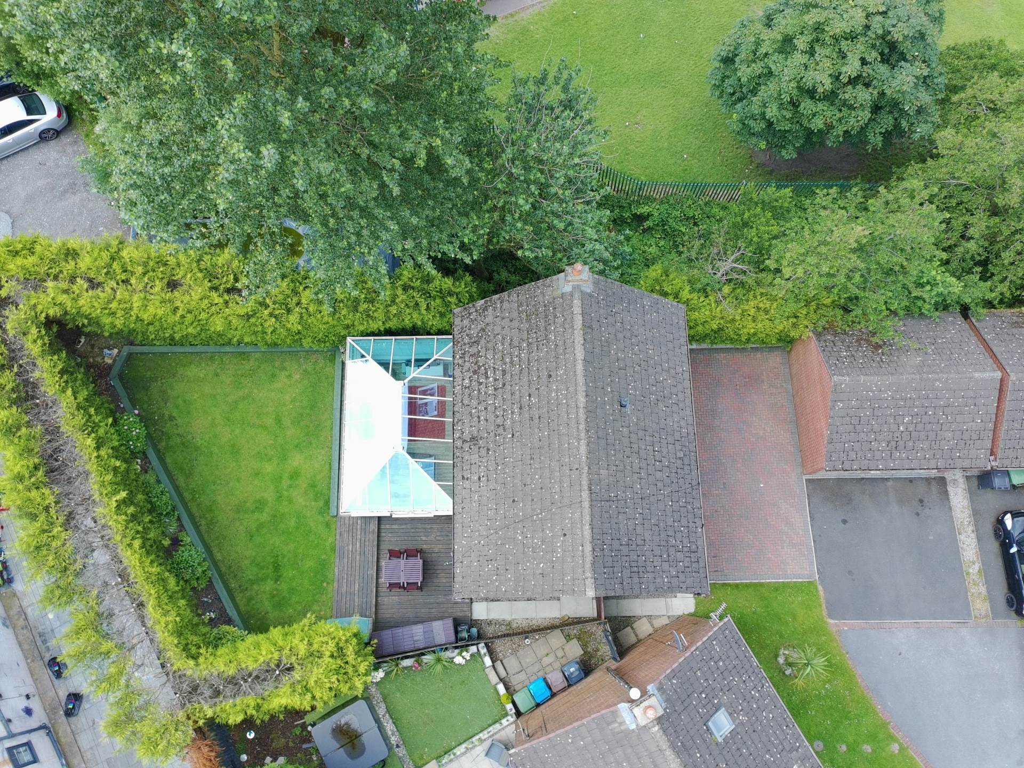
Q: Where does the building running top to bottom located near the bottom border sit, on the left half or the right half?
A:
left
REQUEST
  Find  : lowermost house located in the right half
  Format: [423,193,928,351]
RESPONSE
[506,608,831,768]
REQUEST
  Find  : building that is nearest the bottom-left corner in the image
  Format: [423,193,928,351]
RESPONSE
[0,592,88,768]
